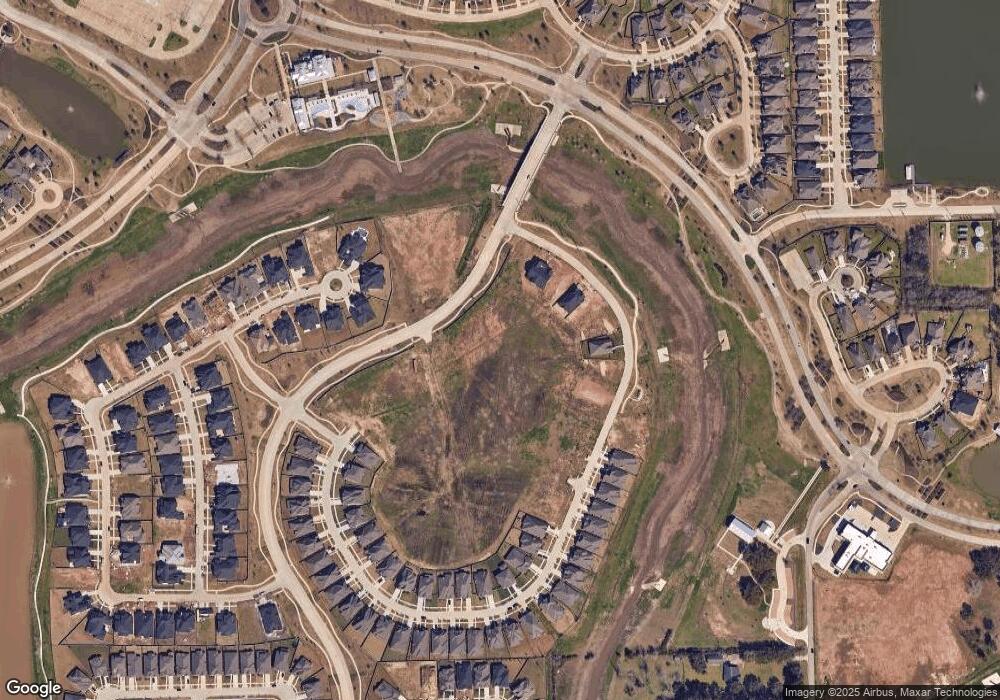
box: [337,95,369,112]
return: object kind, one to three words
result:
swimming pool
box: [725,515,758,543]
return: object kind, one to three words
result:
building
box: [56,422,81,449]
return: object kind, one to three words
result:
house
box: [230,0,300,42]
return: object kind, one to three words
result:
roundabout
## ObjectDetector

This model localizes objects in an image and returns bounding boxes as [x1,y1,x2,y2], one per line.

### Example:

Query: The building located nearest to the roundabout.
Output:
[292,56,335,84]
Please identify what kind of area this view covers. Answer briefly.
residential area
